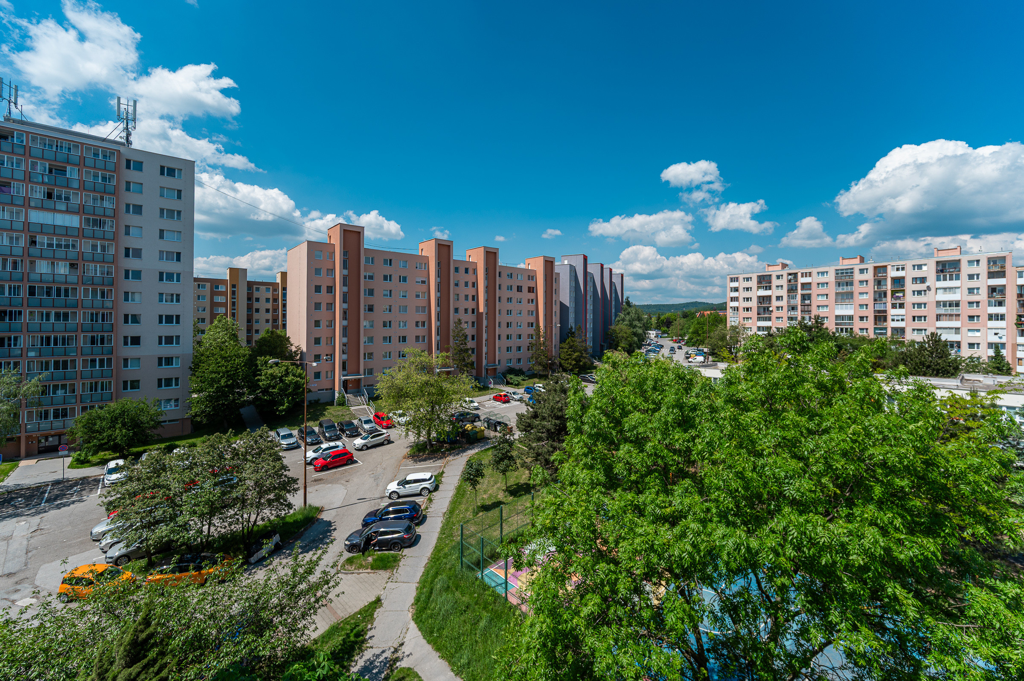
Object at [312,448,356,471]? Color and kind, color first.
red car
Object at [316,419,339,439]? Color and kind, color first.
black car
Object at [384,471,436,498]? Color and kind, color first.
white car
